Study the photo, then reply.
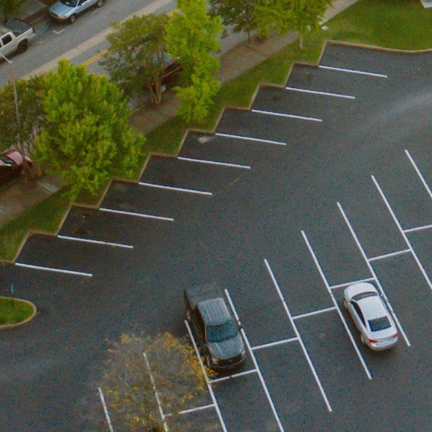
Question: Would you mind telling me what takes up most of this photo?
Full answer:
For the most part, this view shows paved ground.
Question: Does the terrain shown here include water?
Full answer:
No, there is no water in the image.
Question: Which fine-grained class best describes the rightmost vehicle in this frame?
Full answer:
The rightmost vehicle appears to be an automobile.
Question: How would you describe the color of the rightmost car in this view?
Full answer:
The rightmost car is white.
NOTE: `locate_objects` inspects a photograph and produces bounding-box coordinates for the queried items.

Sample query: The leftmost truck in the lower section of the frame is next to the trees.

[186,284,245,367]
